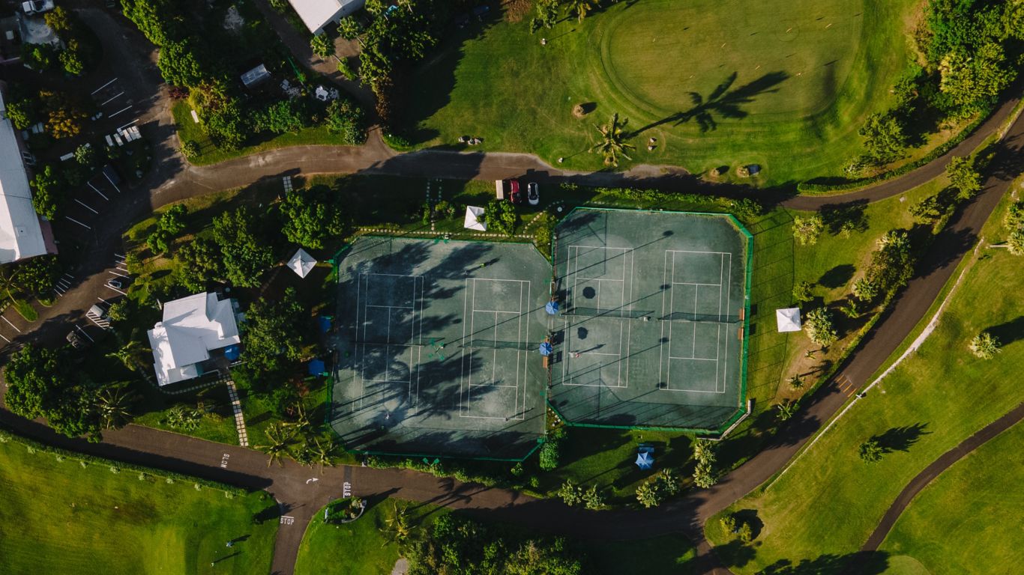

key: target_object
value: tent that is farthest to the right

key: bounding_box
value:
[773,308,801,332]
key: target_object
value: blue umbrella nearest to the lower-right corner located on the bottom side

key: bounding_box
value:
[636,450,653,467]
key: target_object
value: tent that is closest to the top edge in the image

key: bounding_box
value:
[464,206,486,231]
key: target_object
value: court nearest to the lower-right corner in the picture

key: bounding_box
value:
[549,213,740,423]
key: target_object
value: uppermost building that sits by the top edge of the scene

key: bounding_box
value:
[292,0,359,36]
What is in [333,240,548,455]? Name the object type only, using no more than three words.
tennis court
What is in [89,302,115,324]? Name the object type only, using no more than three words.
car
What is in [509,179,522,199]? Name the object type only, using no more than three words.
vehicle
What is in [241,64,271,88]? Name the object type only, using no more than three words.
shed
